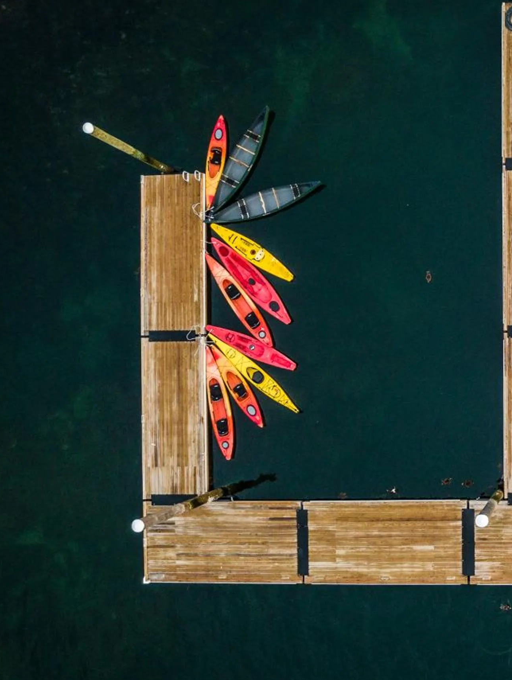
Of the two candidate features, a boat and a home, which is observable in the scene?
boat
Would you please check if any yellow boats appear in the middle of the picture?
Yes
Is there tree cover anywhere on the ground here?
No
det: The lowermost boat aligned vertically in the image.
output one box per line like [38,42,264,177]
[209,349,232,460]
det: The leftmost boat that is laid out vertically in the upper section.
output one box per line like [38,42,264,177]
[204,114,226,209]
